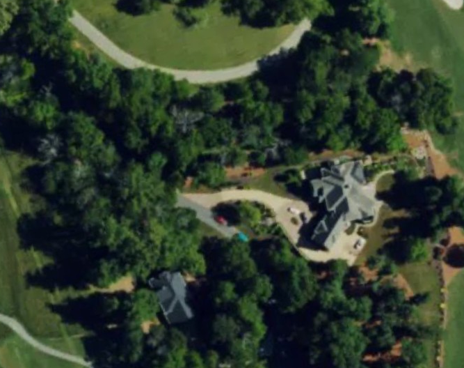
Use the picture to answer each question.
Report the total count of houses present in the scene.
2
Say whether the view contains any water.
No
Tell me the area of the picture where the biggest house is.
right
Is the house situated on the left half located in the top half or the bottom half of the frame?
bottom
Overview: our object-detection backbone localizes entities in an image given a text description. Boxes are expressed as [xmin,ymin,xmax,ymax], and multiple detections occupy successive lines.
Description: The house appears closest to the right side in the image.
[305,160,383,248]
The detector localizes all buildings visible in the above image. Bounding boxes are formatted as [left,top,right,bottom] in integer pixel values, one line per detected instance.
[146,268,193,324]
[305,160,383,248]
